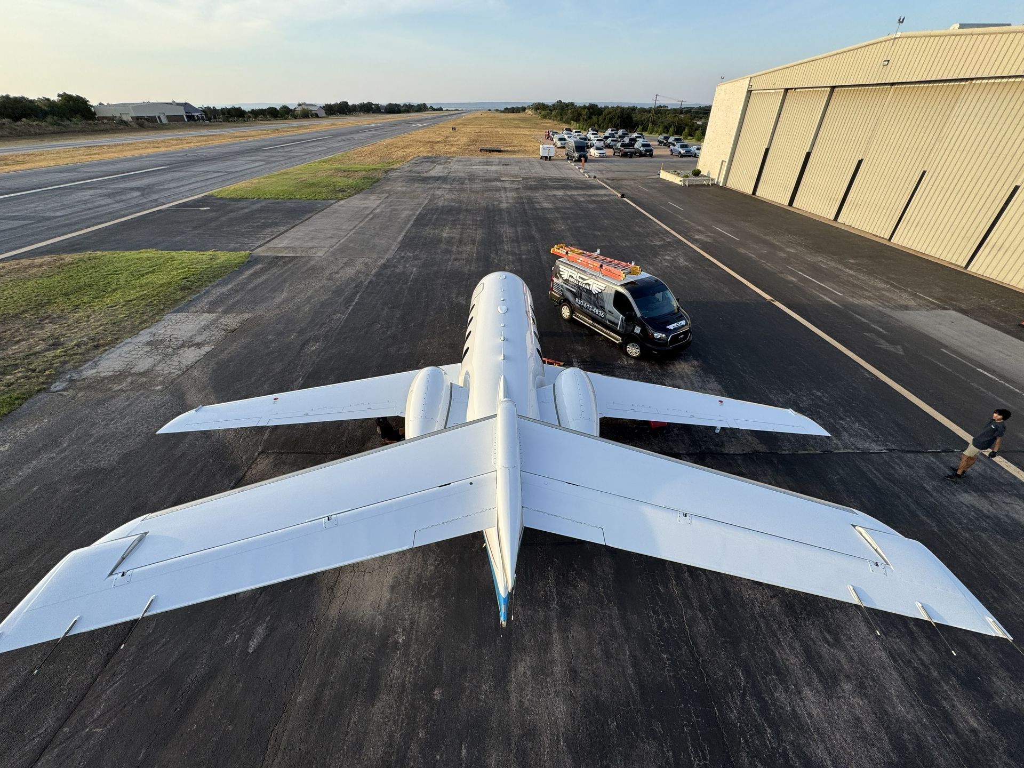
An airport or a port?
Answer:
airport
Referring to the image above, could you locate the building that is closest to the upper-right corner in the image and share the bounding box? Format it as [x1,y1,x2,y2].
[689,13,1024,288]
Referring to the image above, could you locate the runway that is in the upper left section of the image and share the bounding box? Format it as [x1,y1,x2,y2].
[0,110,484,254]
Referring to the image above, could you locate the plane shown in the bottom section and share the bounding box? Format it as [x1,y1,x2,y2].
[0,268,1024,680]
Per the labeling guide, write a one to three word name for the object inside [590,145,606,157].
vehicle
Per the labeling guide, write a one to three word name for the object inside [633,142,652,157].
car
